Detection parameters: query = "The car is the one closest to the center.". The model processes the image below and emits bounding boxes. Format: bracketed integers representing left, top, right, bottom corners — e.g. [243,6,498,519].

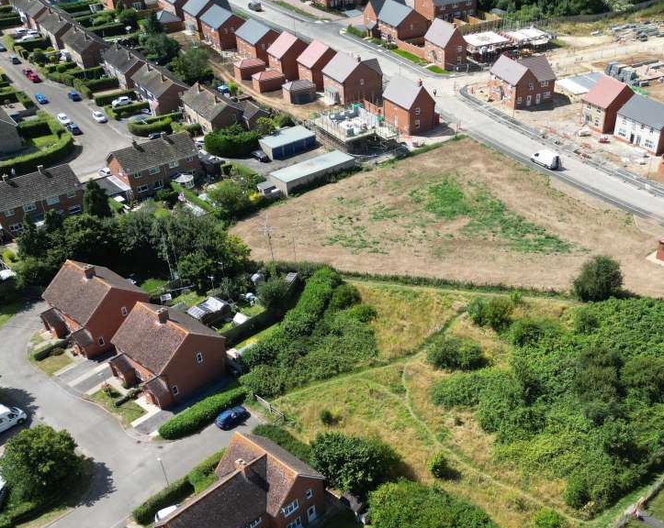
[250,146,270,161]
